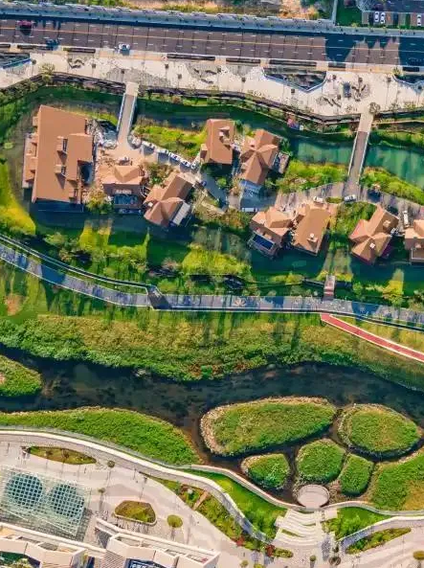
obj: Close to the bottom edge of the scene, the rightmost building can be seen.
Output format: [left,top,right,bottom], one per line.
[95,515,225,568]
